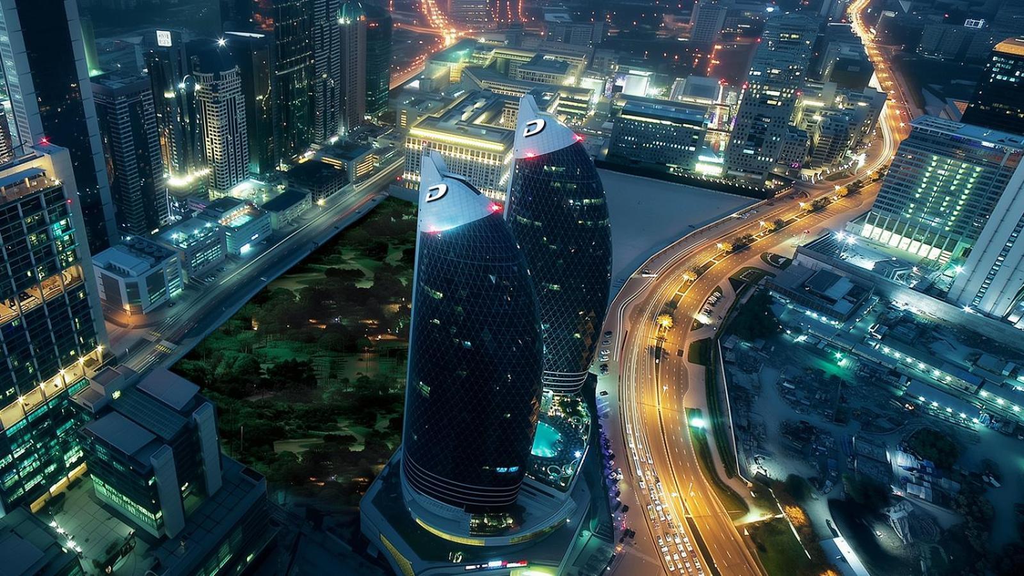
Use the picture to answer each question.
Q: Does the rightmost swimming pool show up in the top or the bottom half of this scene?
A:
bottom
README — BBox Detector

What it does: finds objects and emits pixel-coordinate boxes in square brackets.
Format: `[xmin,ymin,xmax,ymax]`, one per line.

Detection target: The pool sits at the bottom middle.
[532,421,563,457]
